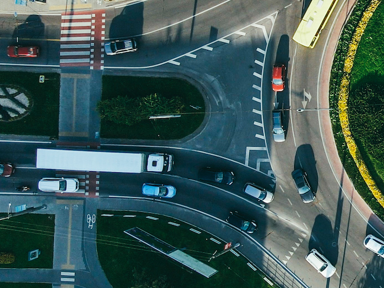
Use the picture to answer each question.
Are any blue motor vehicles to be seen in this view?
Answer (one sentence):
Yes, the image includes a blue motor vehicle.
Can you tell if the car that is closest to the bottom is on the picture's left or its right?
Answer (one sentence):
It is on the right.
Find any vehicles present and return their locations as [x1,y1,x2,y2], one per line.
[226,211,257,234]
[242,181,275,204]
[292,0,340,50]
[362,234,384,258]
[37,176,80,194]
[32,148,180,176]
[142,182,177,200]
[270,110,286,141]
[270,64,286,93]
[0,161,16,177]
[291,167,316,202]
[7,43,41,59]
[104,37,139,55]
[304,247,336,279]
